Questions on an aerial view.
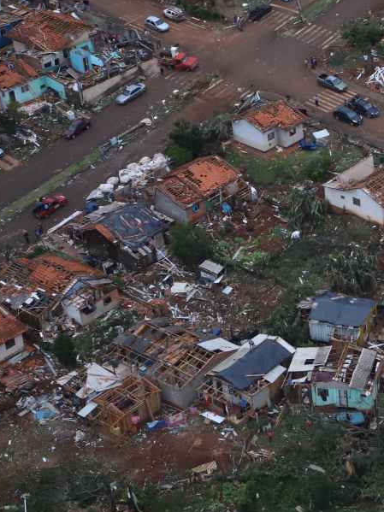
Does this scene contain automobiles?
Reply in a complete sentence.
Yes, the picture does show an automobile.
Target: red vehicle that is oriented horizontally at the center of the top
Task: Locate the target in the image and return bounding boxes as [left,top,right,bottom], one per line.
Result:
[161,49,204,68]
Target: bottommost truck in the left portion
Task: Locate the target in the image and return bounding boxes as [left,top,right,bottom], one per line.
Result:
[33,193,70,215]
